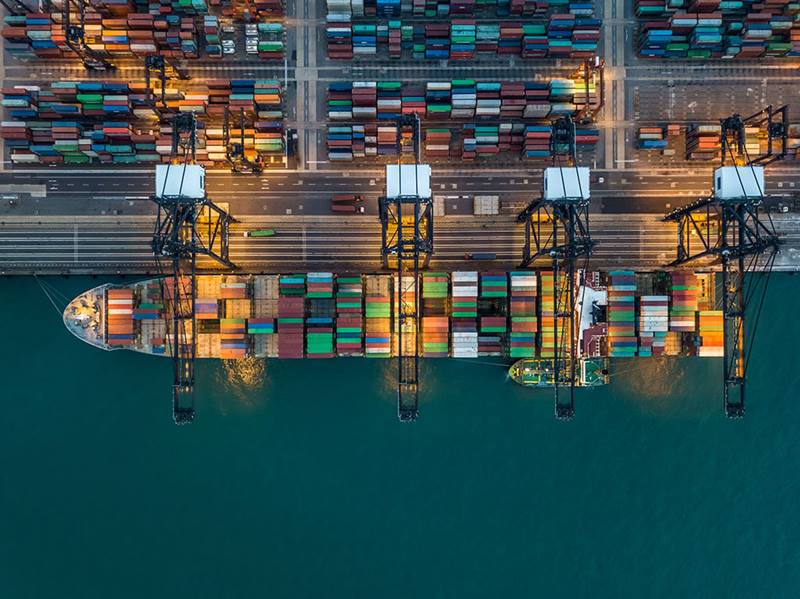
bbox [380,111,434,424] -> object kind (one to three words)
container crane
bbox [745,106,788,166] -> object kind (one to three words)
container crane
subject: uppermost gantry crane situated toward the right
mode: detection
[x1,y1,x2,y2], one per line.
[568,59,604,123]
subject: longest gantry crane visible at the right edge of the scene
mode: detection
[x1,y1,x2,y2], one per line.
[662,111,785,424]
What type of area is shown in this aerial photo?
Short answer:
port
